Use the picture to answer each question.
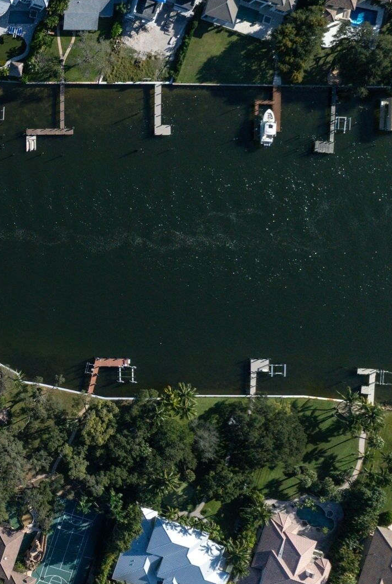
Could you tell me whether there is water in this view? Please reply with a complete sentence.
Yes, water shows up in the scene.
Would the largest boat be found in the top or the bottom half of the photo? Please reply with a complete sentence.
The top half of the photo is where the largest boat is.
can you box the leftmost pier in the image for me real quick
[25,84,73,136]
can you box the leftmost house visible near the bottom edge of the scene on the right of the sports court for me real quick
[111,507,229,584]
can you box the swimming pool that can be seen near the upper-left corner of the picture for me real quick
[7,10,39,25]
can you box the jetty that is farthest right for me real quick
[354,368,379,400]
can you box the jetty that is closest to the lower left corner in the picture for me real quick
[89,358,131,395]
